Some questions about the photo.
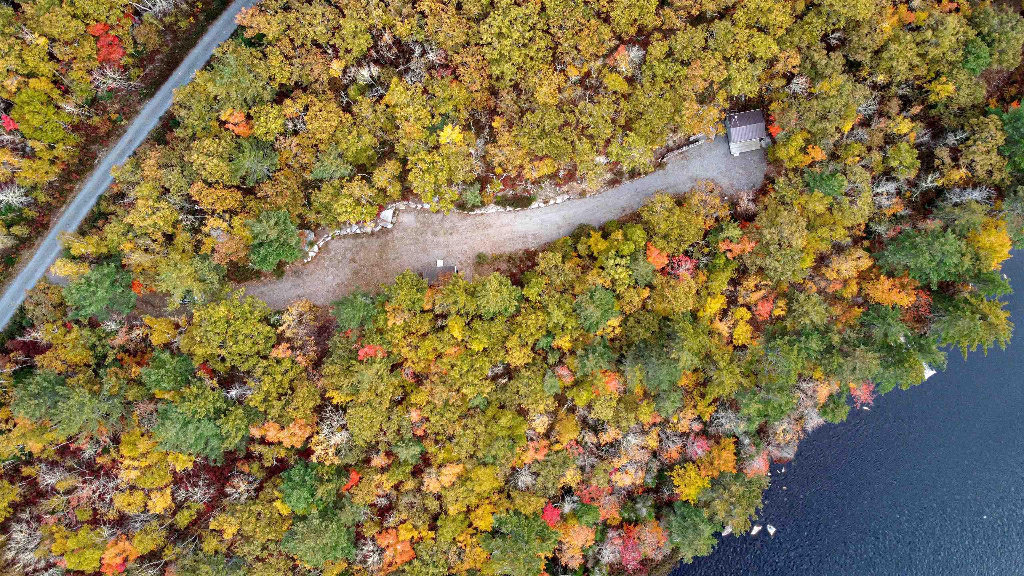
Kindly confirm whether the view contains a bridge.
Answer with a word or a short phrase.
No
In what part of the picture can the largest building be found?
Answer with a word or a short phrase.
top right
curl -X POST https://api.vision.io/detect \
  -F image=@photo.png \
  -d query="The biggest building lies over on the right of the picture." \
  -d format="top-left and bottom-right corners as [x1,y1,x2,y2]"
[722,109,767,161]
